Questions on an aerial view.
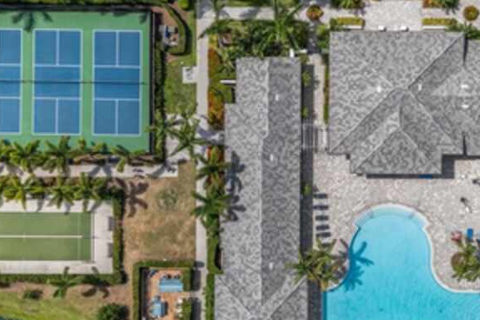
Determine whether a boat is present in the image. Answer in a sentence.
No, no boat is visible in the scene.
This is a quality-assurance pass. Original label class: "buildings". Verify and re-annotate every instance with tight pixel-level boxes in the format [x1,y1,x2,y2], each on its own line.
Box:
[215,54,308,320]
[330,21,480,175]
